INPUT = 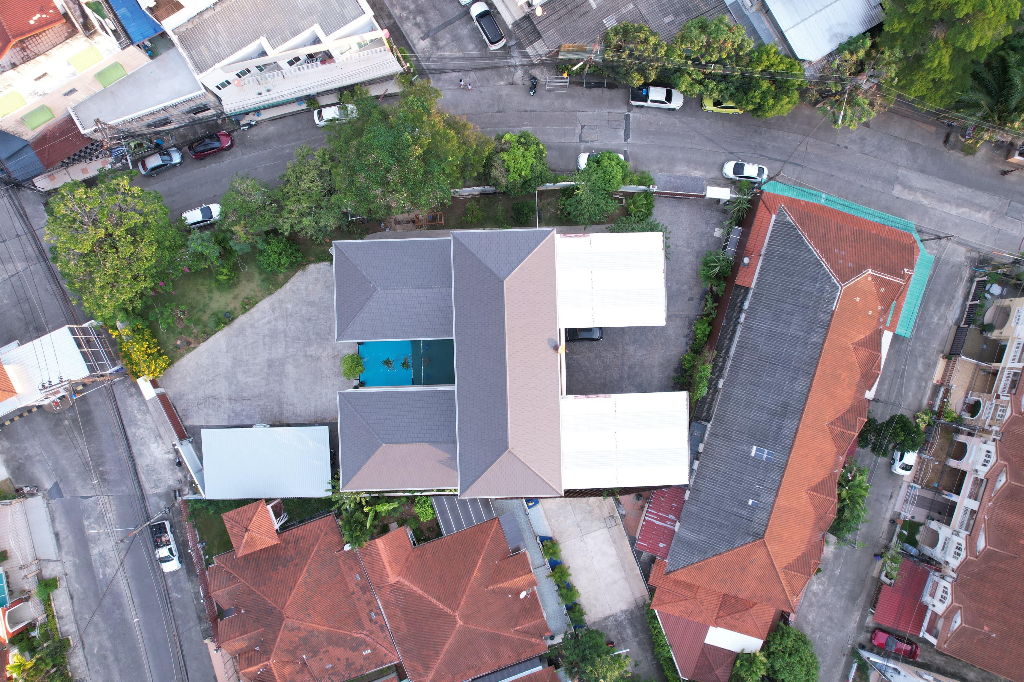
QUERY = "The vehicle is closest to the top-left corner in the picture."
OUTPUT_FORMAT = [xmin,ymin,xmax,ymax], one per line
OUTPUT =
[135,146,186,176]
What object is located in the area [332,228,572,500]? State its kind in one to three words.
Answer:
house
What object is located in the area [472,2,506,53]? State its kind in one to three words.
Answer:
car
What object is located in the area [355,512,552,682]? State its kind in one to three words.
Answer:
house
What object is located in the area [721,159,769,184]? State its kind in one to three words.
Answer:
car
